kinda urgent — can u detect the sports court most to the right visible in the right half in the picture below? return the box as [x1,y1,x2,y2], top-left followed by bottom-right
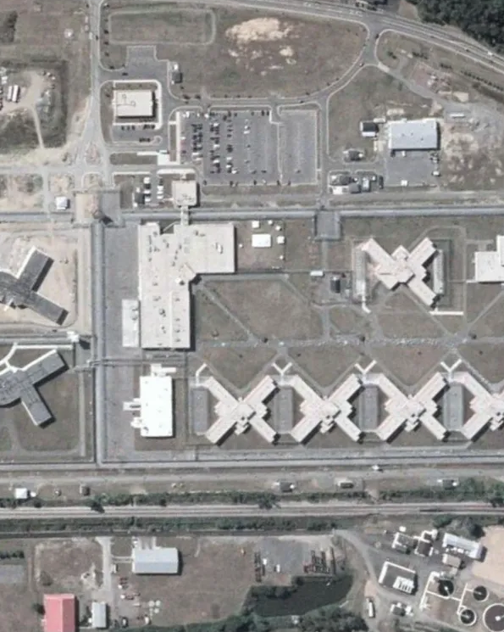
[445,384,463,430]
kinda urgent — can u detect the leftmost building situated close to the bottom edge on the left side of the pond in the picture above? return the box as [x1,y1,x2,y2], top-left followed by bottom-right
[42,593,74,632]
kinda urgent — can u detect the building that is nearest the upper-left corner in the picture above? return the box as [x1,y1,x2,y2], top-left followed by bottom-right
[114,89,153,116]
